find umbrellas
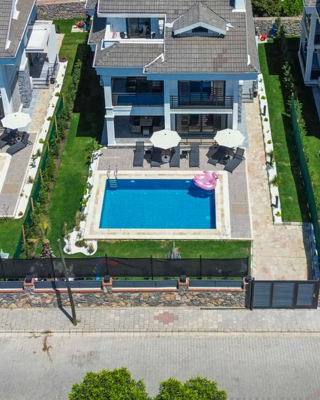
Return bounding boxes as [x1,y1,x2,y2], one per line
[212,127,246,161]
[148,129,181,163]
[0,111,32,144]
